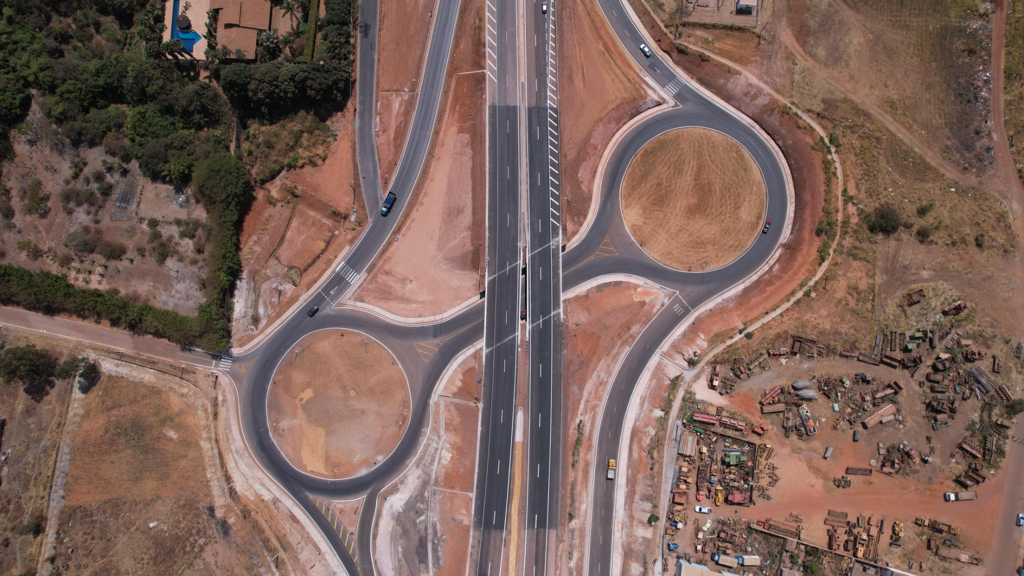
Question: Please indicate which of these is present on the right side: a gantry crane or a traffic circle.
traffic circle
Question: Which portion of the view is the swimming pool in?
top left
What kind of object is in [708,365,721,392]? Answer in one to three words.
vehicle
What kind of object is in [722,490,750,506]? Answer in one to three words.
work vehicle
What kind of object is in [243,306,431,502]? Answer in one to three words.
roundabout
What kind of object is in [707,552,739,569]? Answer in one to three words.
vehicle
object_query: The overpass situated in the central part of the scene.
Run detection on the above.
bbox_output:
[479,227,571,358]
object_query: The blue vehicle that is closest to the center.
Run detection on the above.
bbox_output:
[381,191,396,216]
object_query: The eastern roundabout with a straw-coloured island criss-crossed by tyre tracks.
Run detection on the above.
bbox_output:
[600,103,789,294]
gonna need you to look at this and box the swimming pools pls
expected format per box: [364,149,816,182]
[170,0,203,54]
